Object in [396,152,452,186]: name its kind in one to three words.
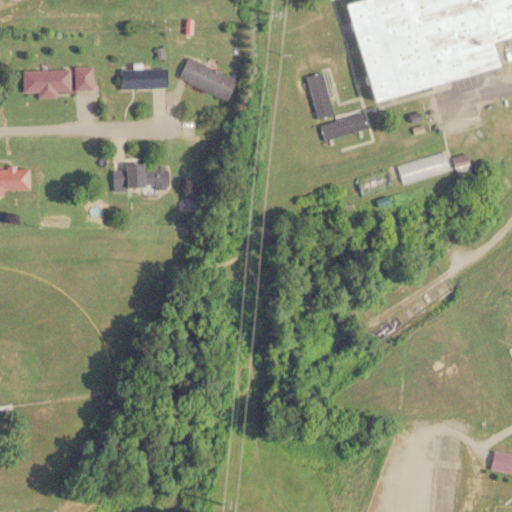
shed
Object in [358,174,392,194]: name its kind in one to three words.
greenhouse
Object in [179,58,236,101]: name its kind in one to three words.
house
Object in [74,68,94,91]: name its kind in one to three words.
building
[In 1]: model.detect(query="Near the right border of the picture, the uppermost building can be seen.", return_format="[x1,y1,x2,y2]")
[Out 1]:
[344,0,512,106]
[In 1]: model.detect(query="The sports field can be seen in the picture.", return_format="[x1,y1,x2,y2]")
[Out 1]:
[0,264,114,411]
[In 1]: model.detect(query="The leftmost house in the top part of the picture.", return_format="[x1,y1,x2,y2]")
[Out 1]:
[0,165,31,198]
